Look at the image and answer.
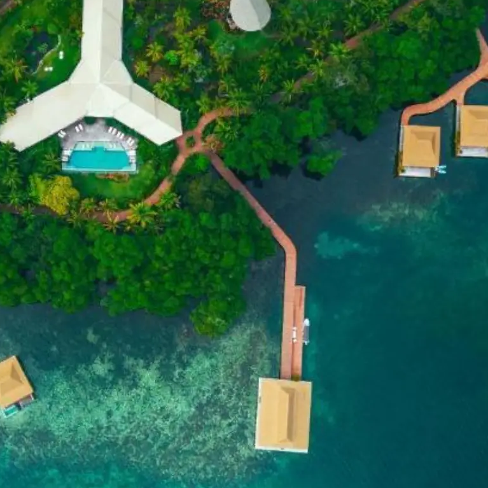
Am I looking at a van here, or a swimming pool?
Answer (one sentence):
It is a swimming pool that can be seen here.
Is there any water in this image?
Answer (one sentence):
Yes, there is water in the image.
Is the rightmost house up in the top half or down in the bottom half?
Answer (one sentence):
It is in the top half that the rightmost house appears.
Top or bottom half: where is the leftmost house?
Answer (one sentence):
Seen from above, the leftmost house lies in the bottom half of the view.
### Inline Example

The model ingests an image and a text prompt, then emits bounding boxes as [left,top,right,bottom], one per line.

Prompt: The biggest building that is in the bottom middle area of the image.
[253,377,313,452]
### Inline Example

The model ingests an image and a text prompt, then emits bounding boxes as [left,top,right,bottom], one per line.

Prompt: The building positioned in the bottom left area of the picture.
[0,356,33,408]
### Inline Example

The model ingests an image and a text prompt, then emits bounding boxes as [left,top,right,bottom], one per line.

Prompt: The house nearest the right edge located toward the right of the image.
[456,105,488,157]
